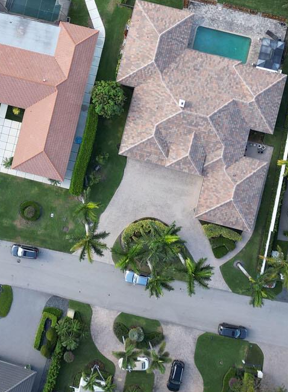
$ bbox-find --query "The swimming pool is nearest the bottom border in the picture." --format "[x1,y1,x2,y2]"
[190,23,254,64]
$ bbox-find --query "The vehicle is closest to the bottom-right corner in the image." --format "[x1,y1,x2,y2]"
[217,322,247,341]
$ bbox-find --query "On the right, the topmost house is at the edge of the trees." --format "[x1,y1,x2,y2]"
[117,0,287,233]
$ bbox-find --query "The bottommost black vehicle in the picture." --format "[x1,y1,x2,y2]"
[166,358,186,392]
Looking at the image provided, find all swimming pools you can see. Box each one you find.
[190,23,254,64]
[4,0,63,23]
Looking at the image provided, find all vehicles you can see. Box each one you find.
[10,243,39,260]
[217,322,247,341]
[121,270,154,288]
[117,355,149,371]
[166,358,186,392]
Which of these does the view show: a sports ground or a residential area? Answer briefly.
residential area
